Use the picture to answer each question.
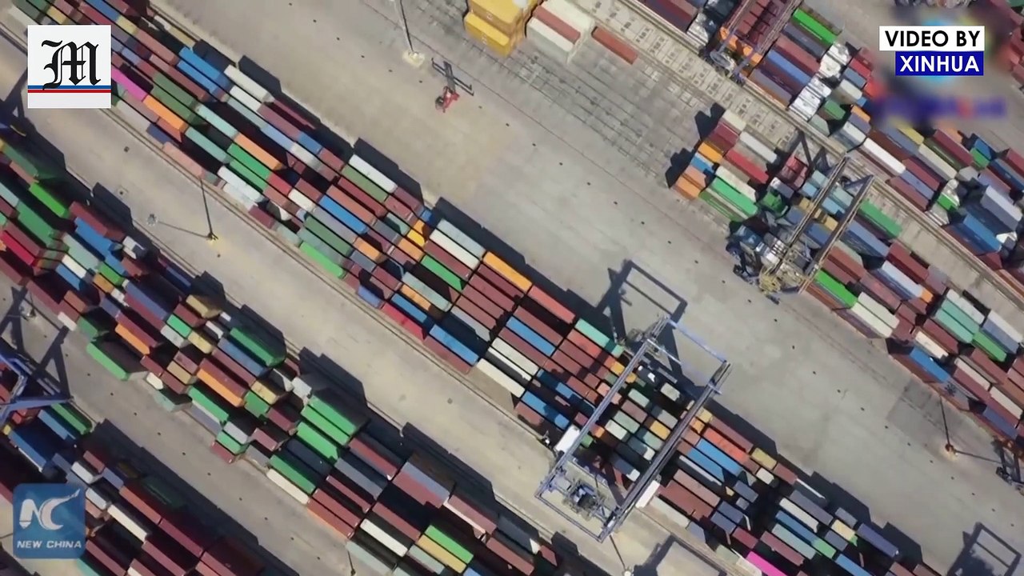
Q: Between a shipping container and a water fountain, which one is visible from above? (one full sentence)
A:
It is a shipping container that can be seen here.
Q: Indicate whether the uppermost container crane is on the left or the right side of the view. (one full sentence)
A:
You can find the uppermost container crane on the right side of the picture.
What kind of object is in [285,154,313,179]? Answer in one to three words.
shipping container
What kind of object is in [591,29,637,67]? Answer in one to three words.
shipping container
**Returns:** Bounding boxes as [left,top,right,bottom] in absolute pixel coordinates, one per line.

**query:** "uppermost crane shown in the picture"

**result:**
[703,0,809,86]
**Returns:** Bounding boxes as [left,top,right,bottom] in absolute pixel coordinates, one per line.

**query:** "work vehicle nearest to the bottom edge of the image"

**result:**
[421,64,461,112]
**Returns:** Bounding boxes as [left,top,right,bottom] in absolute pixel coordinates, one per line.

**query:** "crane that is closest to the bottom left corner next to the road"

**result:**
[0,361,92,440]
